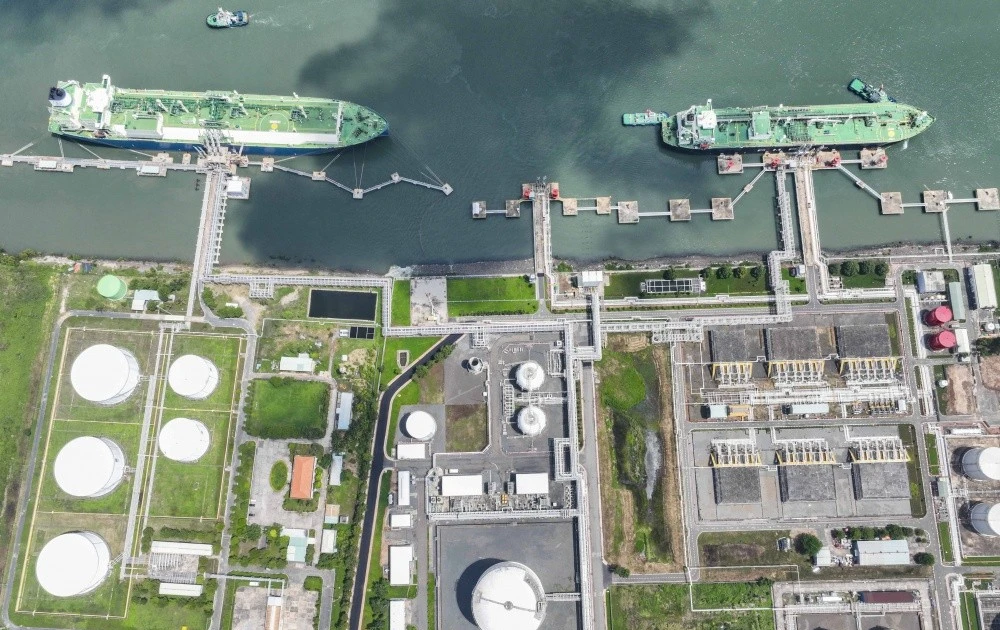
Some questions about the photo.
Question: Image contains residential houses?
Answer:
Yes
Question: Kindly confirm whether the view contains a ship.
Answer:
Yes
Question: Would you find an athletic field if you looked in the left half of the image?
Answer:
Yes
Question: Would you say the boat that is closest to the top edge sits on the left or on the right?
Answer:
left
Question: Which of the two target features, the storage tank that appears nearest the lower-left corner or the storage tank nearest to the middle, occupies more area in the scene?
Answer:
the storage tank that appears nearest the lower-left corner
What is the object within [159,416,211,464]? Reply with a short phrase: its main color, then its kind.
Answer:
white storage tank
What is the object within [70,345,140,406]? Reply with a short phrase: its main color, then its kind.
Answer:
white storage tank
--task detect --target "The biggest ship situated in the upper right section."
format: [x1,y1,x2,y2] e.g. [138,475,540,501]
[660,99,936,154]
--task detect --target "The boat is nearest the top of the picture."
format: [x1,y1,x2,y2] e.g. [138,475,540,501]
[206,10,250,29]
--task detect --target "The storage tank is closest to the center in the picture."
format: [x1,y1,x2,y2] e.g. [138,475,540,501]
[516,361,545,393]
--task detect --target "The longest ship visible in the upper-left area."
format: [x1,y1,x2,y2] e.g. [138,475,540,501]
[45,75,388,160]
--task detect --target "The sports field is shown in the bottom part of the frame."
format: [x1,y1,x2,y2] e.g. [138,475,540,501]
[247,379,329,438]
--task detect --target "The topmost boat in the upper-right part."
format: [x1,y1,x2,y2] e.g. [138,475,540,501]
[846,78,897,101]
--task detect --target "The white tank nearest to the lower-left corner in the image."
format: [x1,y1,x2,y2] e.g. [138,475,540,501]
[35,528,111,598]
